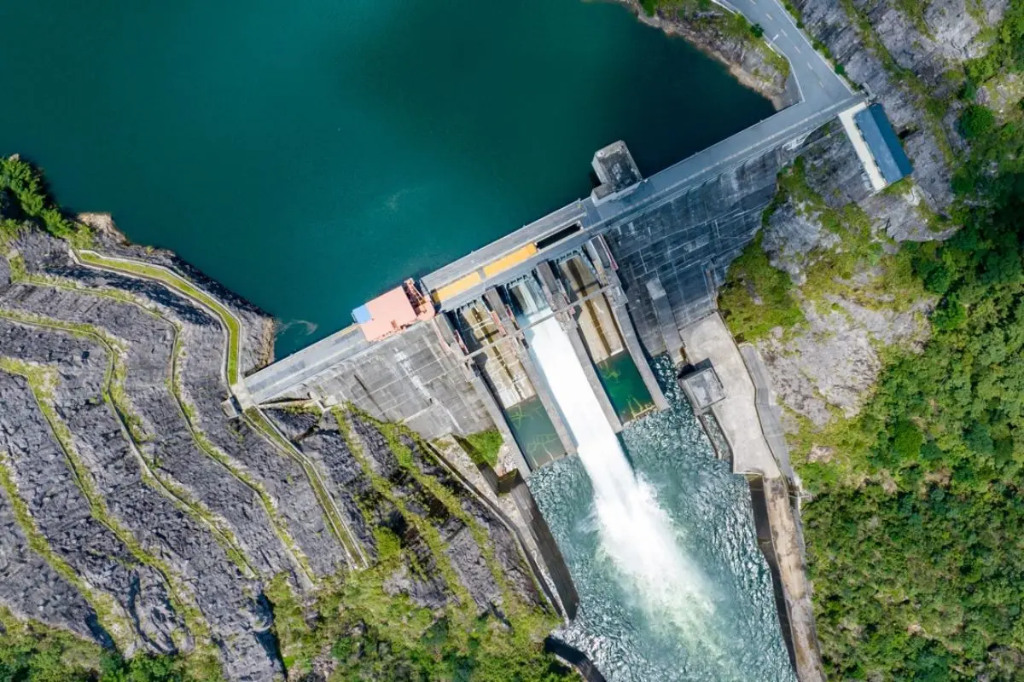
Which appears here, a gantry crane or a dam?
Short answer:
dam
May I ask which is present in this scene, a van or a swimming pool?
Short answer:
swimming pool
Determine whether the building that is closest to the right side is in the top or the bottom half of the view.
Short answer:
top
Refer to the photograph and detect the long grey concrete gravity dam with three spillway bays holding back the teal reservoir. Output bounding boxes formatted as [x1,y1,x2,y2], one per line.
[243,84,850,479]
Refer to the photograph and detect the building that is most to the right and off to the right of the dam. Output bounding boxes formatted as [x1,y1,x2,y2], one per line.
[853,106,913,185]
